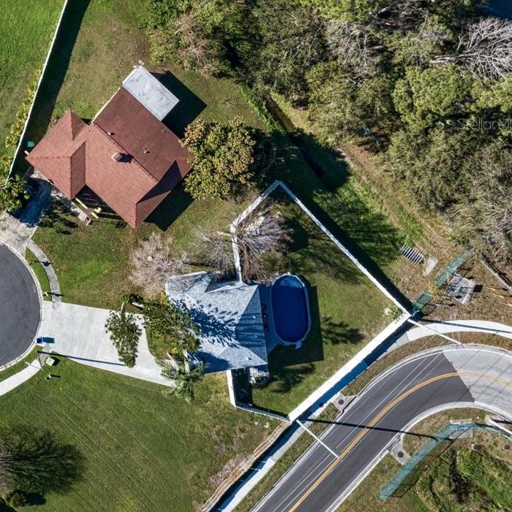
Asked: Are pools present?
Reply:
Yes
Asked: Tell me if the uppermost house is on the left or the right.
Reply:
left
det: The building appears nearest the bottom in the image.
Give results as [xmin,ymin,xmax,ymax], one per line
[160,270,269,374]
